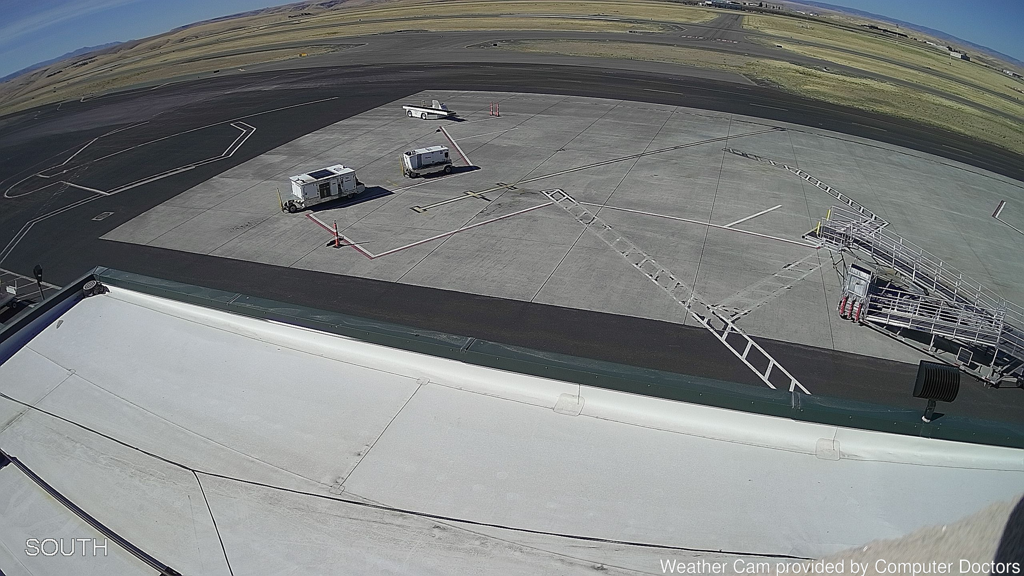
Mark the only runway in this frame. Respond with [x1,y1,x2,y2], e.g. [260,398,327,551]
[3,14,1024,105]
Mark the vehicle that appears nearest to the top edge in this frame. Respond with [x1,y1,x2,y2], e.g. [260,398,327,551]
[402,99,457,120]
